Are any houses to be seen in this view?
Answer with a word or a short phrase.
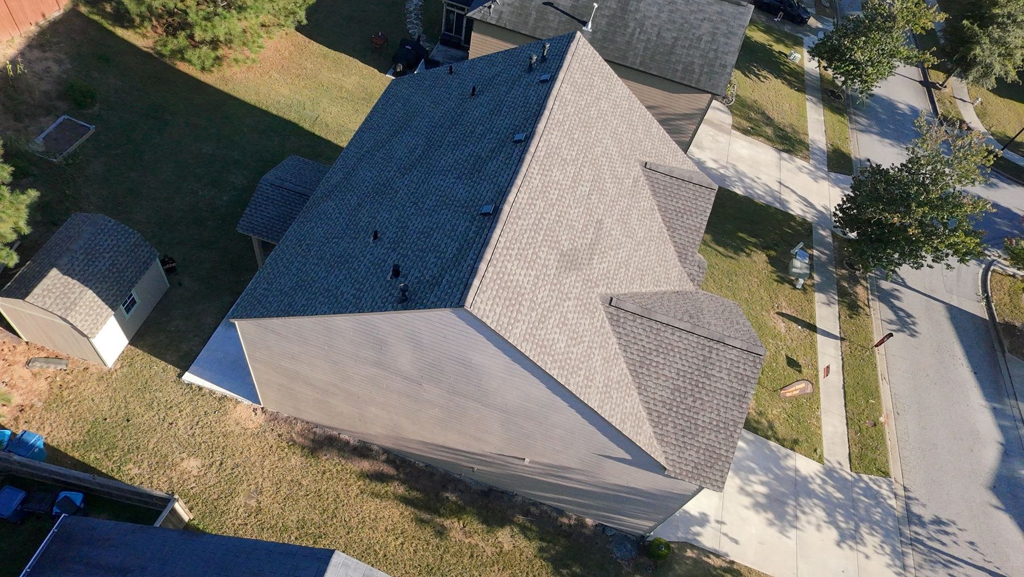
Yes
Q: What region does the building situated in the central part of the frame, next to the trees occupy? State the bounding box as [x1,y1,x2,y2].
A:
[229,30,768,542]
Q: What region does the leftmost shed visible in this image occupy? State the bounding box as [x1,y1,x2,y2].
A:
[0,212,175,370]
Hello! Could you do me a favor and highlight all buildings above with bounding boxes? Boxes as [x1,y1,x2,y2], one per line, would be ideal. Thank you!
[0,212,175,370]
[229,30,768,542]
[14,512,378,577]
